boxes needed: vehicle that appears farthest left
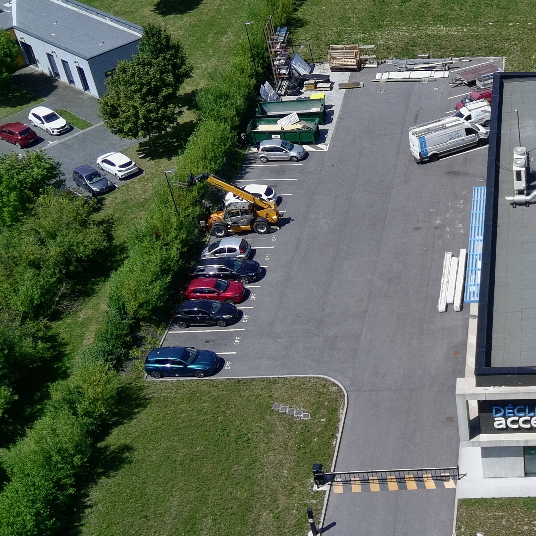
[0,120,34,147]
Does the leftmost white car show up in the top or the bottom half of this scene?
top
